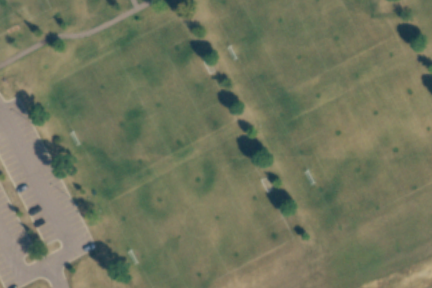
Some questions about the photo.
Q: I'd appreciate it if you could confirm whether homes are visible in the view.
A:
No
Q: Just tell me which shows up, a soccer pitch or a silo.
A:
soccer pitch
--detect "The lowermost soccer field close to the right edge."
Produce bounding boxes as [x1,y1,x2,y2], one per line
[284,57,432,229]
